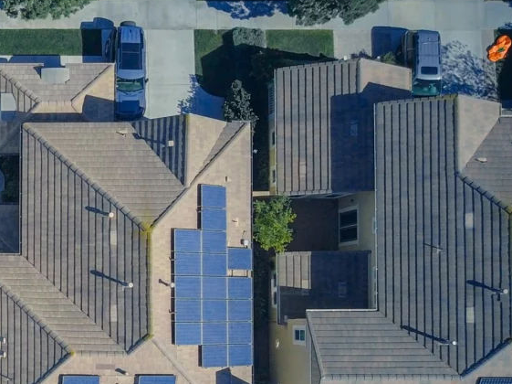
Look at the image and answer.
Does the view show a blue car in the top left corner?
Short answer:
Yes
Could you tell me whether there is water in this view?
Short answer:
No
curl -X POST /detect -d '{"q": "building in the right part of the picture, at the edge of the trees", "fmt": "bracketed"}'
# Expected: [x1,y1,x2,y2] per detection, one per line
[266,58,512,384]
